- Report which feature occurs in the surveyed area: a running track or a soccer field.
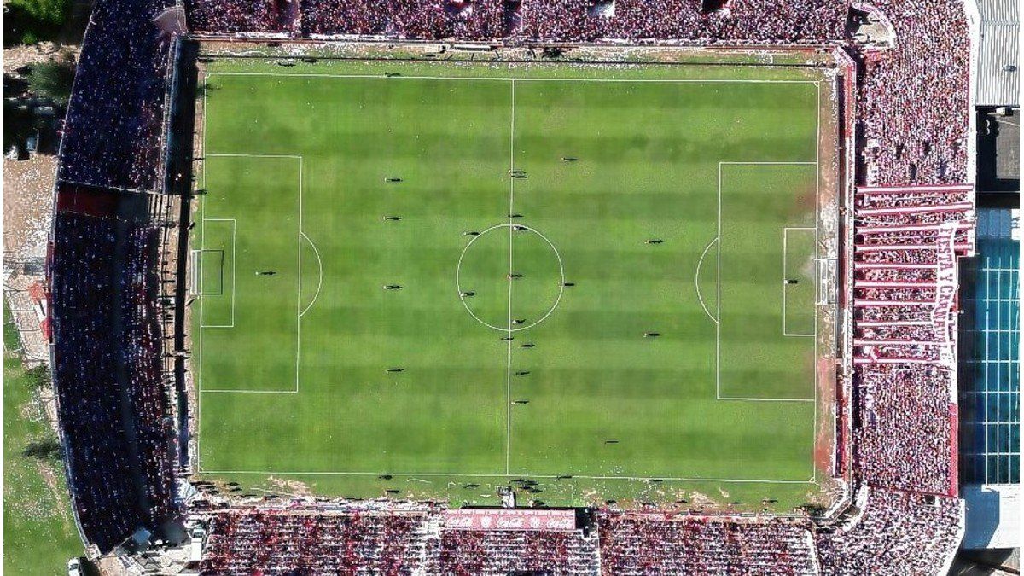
soccer field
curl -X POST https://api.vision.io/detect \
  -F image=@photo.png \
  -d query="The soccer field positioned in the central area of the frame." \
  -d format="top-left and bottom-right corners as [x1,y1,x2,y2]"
[198,73,819,483]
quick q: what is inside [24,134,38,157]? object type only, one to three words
car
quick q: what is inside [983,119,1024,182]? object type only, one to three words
building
